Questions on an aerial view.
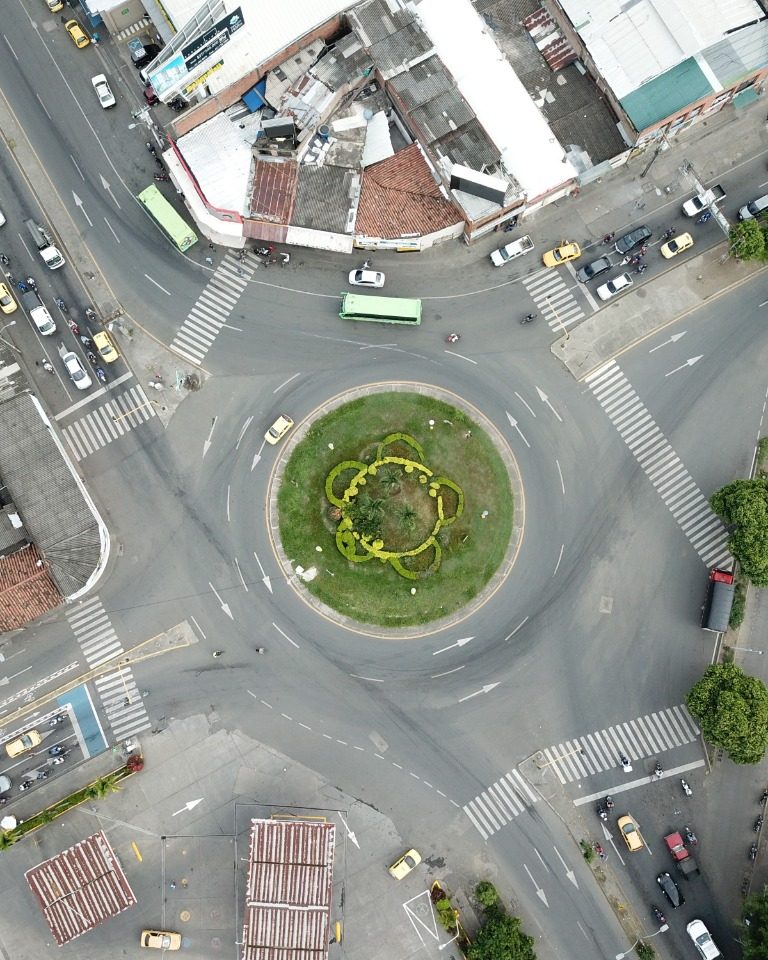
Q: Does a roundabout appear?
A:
Yes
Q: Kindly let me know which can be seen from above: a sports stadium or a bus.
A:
bus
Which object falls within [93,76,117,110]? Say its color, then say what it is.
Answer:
white car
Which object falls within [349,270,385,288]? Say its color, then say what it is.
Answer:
white car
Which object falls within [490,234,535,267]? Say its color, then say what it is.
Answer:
white truck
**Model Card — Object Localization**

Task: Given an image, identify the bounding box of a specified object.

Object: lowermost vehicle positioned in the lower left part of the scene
[142,928,182,951]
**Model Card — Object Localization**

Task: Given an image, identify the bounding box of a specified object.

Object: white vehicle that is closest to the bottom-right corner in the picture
[690,921,723,960]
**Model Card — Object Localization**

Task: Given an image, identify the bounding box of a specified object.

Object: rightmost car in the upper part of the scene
[738,195,768,221]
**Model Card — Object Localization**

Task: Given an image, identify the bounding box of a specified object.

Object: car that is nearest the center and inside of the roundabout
[265,413,293,444]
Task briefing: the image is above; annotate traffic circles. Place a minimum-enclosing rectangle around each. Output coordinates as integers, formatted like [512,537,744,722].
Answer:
[183,305,609,728]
